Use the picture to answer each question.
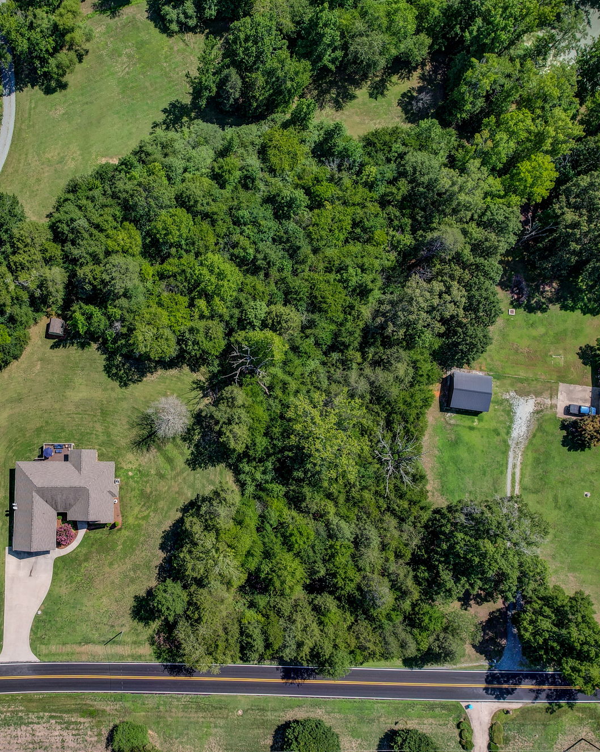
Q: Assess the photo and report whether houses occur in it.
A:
Yes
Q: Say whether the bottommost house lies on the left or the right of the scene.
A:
left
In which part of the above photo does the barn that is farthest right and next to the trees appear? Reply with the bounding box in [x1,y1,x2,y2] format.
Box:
[448,372,492,412]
